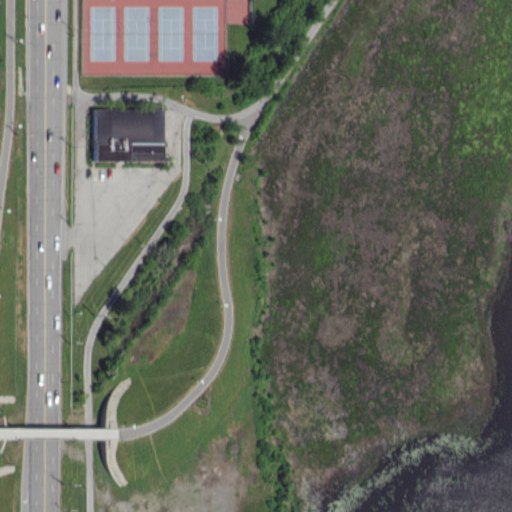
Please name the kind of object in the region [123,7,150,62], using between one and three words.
tennis court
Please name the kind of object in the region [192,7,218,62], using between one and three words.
tennis court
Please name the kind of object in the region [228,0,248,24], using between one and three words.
sports court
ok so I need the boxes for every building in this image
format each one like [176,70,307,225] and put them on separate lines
[93,110,166,163]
